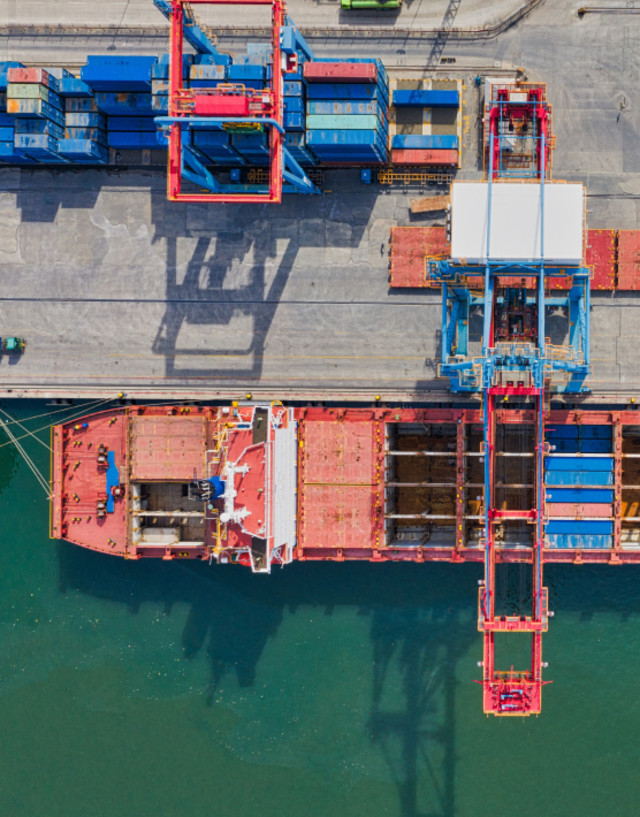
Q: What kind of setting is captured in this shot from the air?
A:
port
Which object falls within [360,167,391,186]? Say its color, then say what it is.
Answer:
blue vehicle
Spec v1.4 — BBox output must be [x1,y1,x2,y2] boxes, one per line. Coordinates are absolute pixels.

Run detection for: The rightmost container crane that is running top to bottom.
[429,81,599,720]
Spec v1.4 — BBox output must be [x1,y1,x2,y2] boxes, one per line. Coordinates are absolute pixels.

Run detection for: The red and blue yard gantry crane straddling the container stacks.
[147,0,329,204]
